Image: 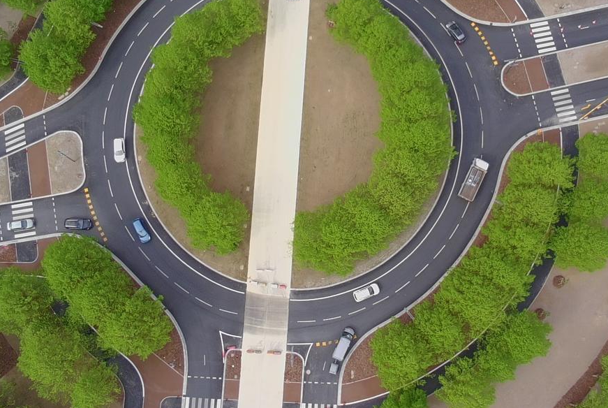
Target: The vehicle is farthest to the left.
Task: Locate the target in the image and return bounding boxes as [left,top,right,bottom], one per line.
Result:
[4,217,34,231]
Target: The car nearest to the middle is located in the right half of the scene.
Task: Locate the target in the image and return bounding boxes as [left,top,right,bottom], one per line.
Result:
[351,283,381,302]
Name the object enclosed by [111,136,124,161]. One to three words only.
vehicle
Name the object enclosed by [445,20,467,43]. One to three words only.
car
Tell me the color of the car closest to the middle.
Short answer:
white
